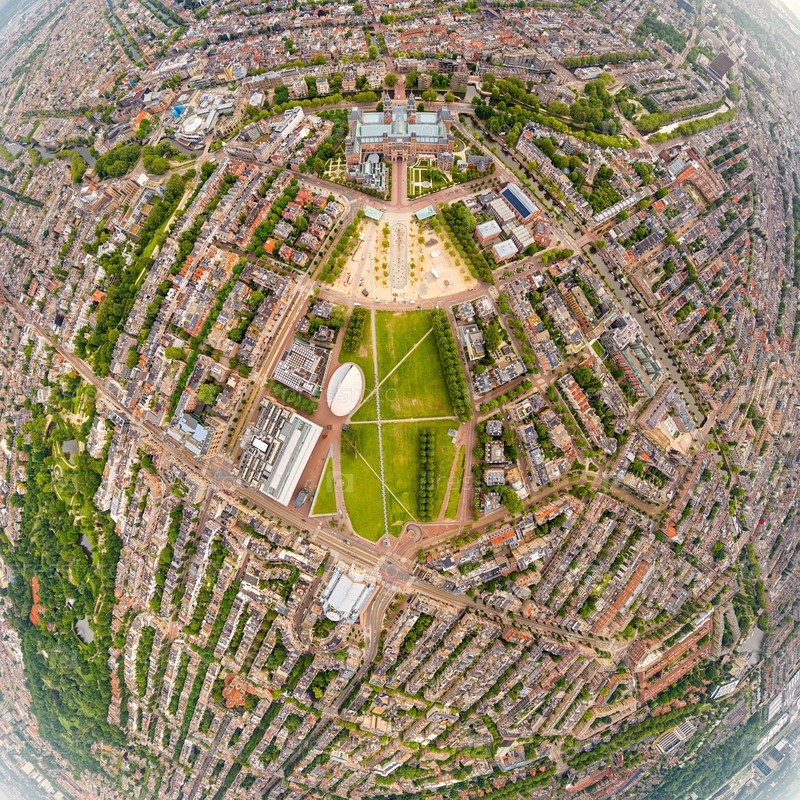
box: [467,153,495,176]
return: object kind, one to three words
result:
house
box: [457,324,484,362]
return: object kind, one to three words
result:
building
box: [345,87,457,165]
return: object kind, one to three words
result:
building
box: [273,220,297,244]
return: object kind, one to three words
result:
house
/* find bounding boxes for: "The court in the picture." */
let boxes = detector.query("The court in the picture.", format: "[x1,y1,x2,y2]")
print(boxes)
[28,574,44,627]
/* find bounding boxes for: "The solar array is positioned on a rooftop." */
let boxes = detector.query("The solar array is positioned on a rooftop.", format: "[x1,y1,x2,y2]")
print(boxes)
[502,188,533,220]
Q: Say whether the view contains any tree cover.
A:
Yes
